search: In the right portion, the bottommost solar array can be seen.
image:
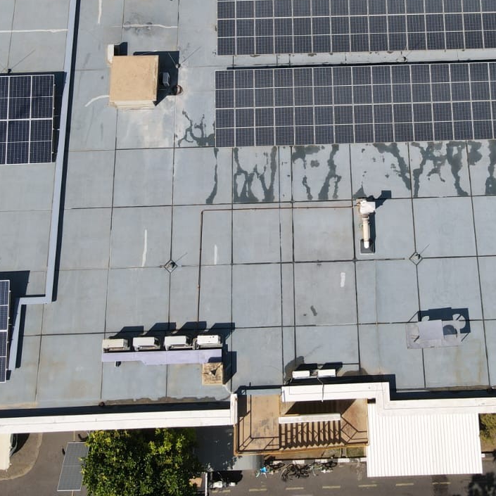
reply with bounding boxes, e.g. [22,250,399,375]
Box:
[214,63,496,146]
